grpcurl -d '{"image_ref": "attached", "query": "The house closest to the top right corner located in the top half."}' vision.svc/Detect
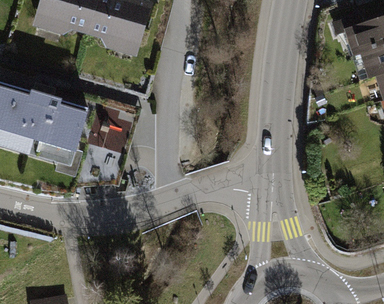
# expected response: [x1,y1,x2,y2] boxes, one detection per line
[328,14,384,104]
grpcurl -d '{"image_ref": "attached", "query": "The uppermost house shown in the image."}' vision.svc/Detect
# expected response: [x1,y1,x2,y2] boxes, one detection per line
[33,0,154,56]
